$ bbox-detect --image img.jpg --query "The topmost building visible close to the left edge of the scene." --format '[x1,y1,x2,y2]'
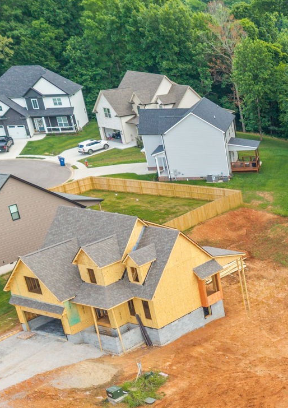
[0,67,93,135]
